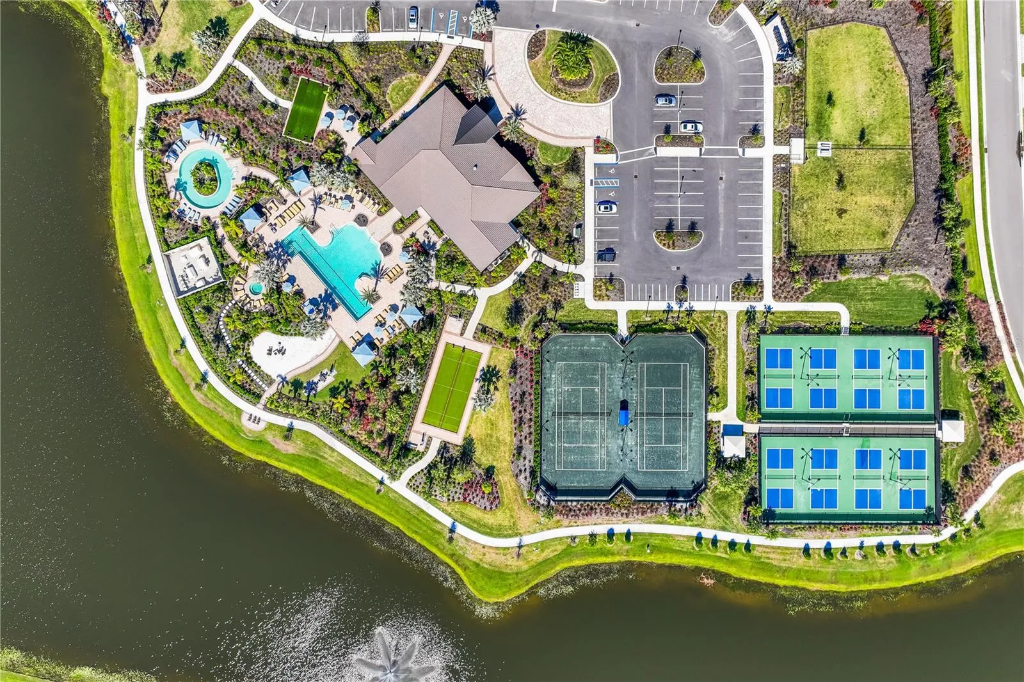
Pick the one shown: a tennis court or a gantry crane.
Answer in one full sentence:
I can see a tennis court in this picture.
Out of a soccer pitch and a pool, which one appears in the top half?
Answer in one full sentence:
The one visible in the top half is a pool.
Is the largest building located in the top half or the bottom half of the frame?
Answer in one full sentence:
The largest building sits in the top half of the picture.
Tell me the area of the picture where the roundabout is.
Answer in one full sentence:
The roundabout is located in the top region of the scene.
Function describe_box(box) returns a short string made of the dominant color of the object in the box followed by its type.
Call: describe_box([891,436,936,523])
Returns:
green sports court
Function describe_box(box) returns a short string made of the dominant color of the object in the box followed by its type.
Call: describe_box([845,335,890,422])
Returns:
green sports court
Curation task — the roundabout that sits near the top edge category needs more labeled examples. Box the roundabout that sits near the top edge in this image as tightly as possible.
[525,28,621,106]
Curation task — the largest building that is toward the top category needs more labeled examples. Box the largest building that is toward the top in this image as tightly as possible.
[350,86,540,272]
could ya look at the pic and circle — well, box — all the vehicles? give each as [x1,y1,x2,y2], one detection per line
[596,252,617,261]
[680,122,703,132]
[655,95,676,106]
[597,203,617,212]
[408,7,418,29]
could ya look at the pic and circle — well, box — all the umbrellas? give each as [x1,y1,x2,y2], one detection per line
[282,281,293,293]
[303,302,315,314]
[335,109,346,120]
[386,310,397,322]
[398,251,410,262]
[321,115,332,127]
[341,199,352,211]
[343,120,354,131]
[373,325,384,336]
